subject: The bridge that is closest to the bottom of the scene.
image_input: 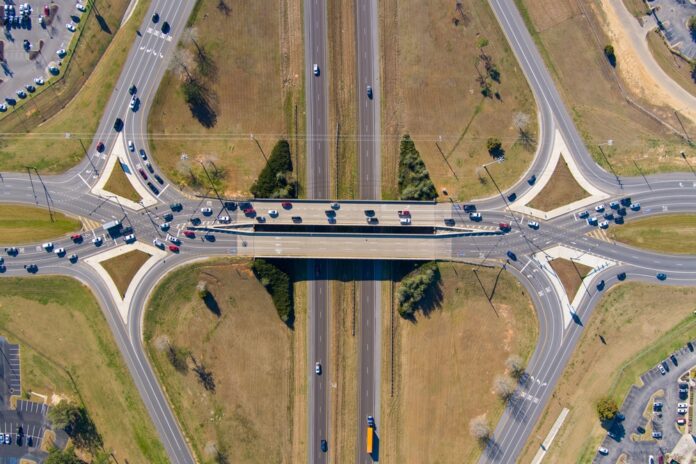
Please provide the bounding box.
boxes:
[237,231,453,260]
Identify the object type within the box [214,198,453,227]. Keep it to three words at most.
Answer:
bridge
